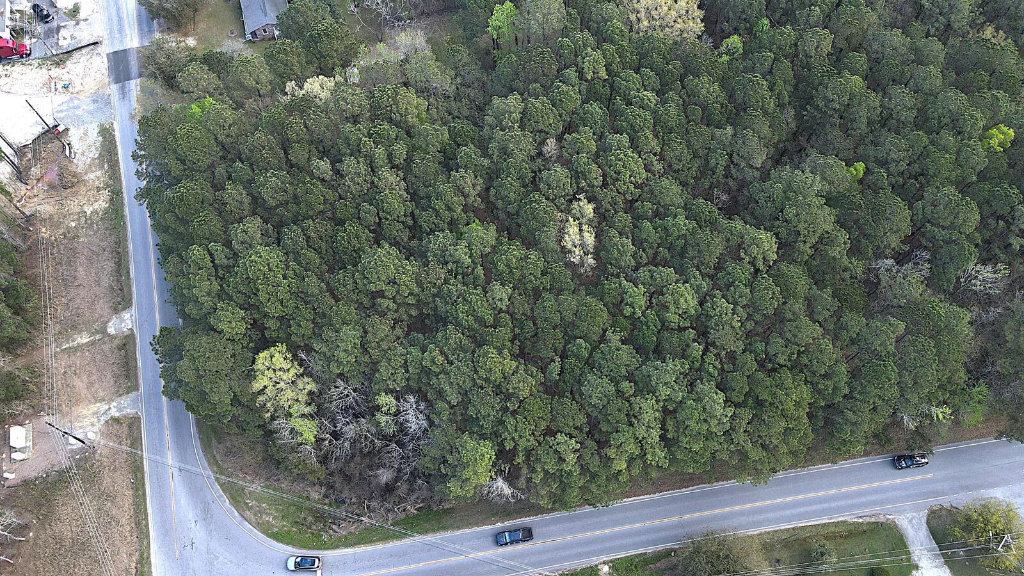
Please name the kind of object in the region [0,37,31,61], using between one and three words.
truck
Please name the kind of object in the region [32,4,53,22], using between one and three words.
car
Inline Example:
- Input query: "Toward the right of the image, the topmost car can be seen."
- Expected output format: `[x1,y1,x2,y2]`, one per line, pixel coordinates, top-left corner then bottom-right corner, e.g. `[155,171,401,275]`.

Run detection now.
[893,451,930,470]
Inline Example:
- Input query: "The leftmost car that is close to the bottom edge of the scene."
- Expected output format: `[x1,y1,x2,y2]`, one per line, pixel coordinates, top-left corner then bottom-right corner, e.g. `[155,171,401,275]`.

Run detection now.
[290,554,324,572]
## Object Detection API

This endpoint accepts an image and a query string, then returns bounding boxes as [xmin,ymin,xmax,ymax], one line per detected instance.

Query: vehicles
[893,451,930,470]
[496,526,533,547]
[0,37,31,61]
[290,554,324,572]
[32,4,53,22]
